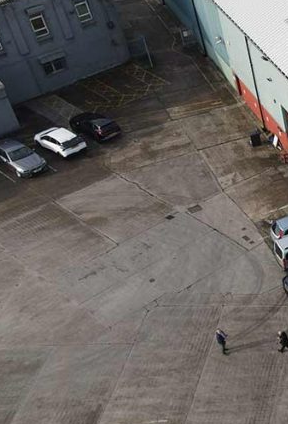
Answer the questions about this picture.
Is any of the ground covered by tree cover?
No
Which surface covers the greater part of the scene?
paved ground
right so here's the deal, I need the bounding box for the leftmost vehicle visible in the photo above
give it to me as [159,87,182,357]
[0,138,47,173]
